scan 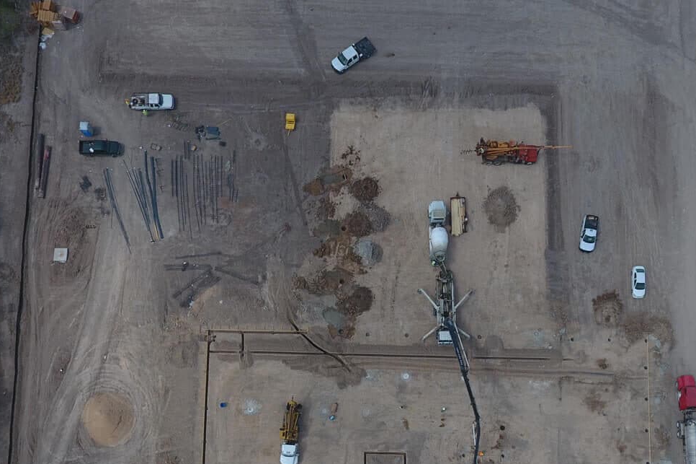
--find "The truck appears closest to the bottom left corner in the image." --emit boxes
[277,390,298,464]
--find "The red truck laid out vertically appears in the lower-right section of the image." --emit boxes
[671,374,696,439]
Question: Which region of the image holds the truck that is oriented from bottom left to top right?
top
